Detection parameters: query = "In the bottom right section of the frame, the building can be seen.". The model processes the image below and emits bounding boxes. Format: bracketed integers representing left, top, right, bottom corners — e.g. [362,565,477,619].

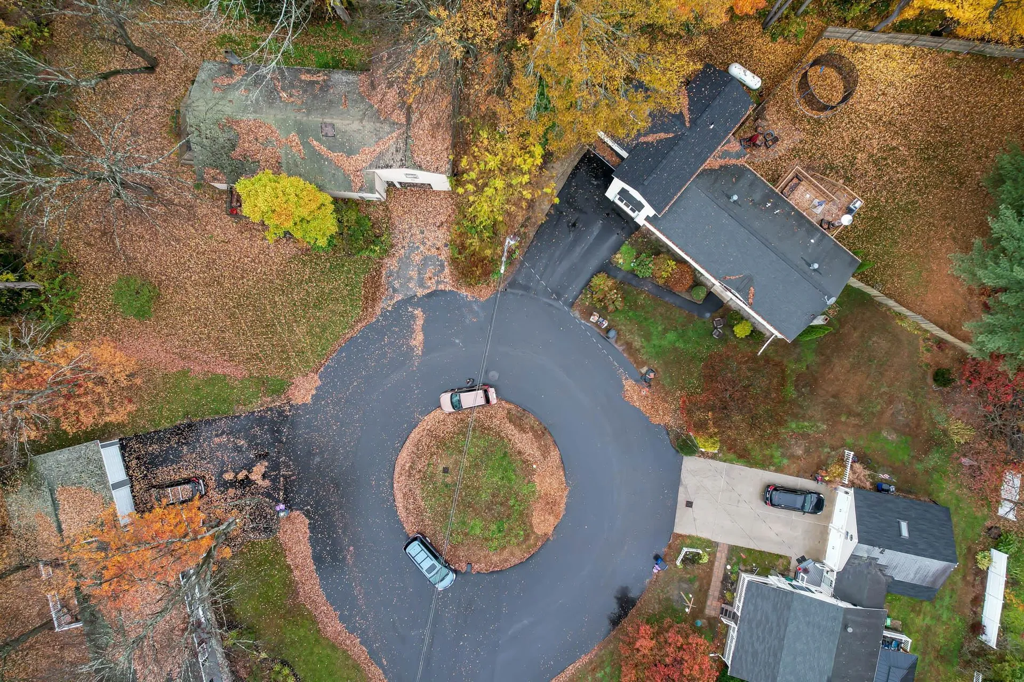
[693,486,960,682]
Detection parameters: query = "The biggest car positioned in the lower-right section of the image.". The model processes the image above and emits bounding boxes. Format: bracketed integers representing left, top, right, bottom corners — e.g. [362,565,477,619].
[762,484,825,516]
